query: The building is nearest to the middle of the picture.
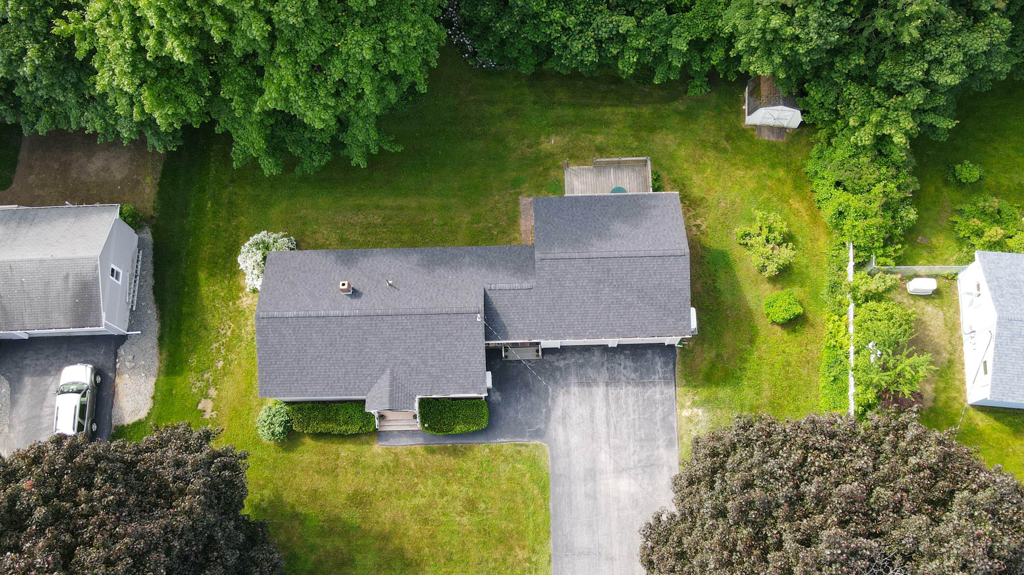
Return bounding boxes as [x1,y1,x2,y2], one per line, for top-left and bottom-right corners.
[256,190,692,431]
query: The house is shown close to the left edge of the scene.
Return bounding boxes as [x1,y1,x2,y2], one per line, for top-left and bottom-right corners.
[0,194,143,340]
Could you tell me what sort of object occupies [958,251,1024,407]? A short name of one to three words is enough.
house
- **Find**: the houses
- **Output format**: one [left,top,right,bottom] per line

[958,251,1024,407]
[0,194,143,340]
[256,190,692,431]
